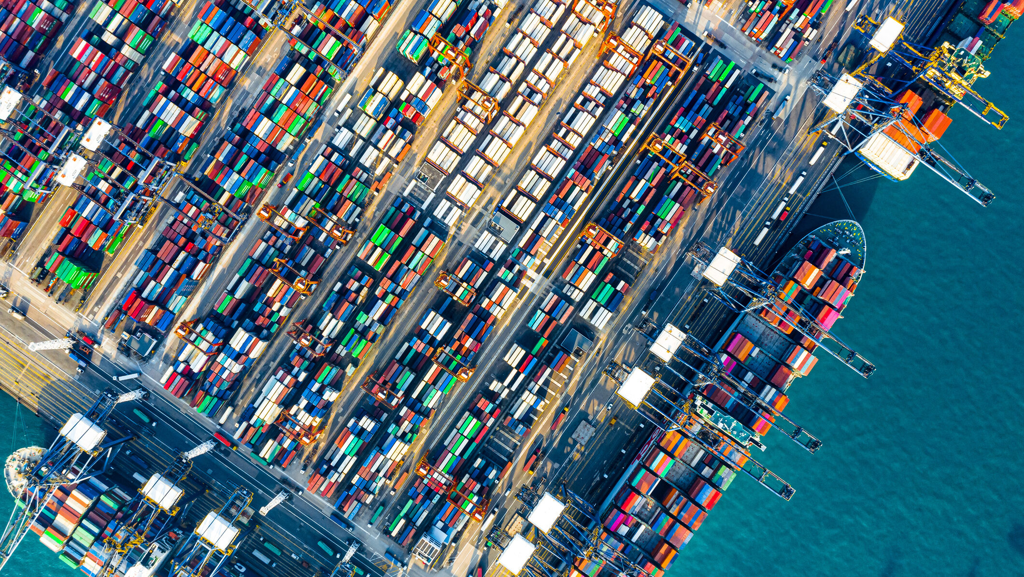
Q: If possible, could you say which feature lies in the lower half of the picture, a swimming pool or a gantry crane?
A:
gantry crane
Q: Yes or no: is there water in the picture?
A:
Yes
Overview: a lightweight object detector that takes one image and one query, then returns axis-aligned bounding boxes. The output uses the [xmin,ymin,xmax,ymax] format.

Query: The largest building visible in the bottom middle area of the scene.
[411,527,454,566]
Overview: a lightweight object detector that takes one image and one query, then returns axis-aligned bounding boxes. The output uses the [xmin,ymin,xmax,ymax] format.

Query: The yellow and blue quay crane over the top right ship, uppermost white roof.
[839,5,1004,127]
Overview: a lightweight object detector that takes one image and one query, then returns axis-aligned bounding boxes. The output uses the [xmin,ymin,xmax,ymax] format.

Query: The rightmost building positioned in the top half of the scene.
[488,211,520,243]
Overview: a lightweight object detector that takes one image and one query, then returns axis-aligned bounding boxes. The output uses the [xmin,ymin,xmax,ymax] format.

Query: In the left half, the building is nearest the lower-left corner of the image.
[114,329,160,356]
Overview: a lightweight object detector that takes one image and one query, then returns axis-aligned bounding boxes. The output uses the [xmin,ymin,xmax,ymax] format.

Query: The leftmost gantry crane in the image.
[0,392,141,569]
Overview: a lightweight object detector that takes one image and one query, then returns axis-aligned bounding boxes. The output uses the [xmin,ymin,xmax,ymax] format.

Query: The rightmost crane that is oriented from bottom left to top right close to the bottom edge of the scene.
[171,487,263,577]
